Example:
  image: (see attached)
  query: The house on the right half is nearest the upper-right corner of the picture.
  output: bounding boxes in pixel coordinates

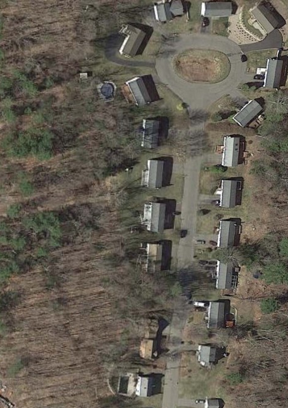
[248,1,279,36]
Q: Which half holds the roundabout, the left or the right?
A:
right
